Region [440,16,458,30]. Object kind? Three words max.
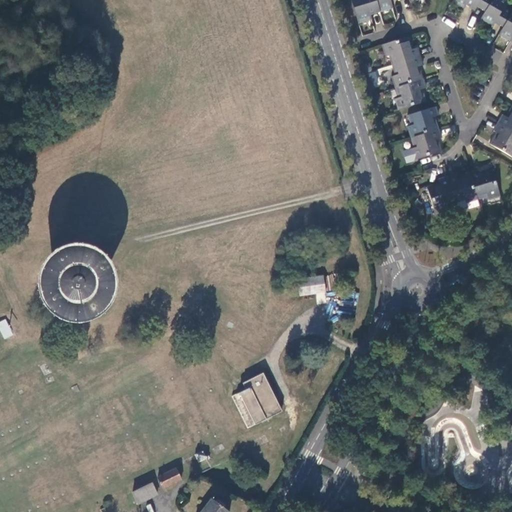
vehicle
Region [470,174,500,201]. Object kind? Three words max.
house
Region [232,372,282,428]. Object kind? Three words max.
building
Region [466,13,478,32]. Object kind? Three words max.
vehicle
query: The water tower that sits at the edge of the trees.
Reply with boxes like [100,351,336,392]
[38,243,119,324]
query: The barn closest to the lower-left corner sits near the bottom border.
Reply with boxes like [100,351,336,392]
[131,480,158,506]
